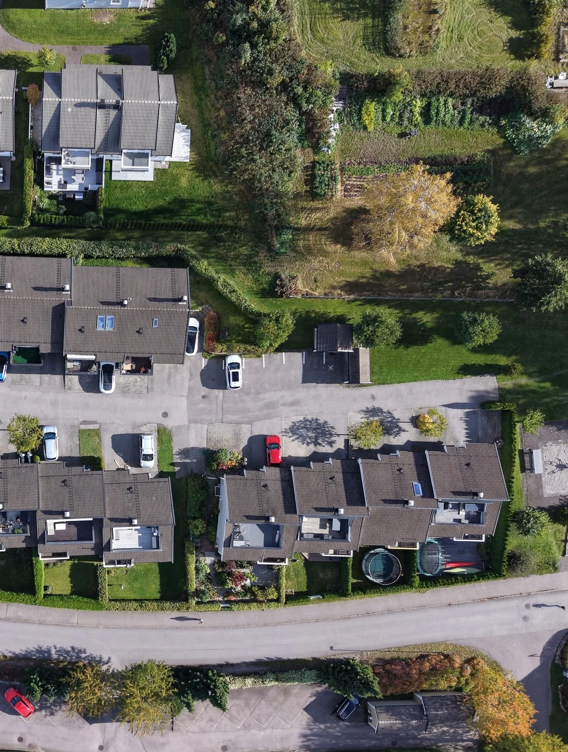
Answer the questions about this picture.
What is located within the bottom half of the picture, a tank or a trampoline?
trampoline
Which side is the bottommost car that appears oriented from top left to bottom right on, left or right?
left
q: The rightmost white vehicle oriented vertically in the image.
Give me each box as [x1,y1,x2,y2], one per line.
[225,355,241,390]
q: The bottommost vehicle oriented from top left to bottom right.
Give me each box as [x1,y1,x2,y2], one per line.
[6,687,33,719]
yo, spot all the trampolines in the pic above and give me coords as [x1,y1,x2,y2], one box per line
[363,551,401,586]
[417,540,446,575]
